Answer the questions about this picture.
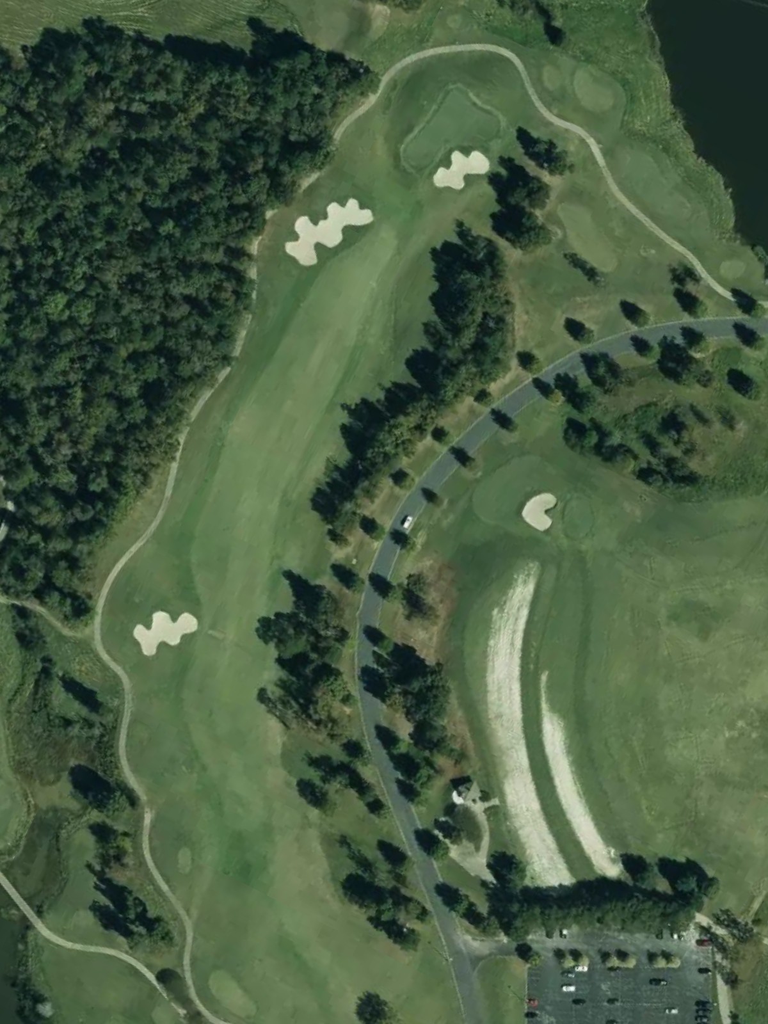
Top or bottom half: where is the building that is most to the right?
bottom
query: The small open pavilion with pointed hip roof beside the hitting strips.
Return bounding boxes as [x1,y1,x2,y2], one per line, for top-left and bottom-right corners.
[457,781,481,802]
